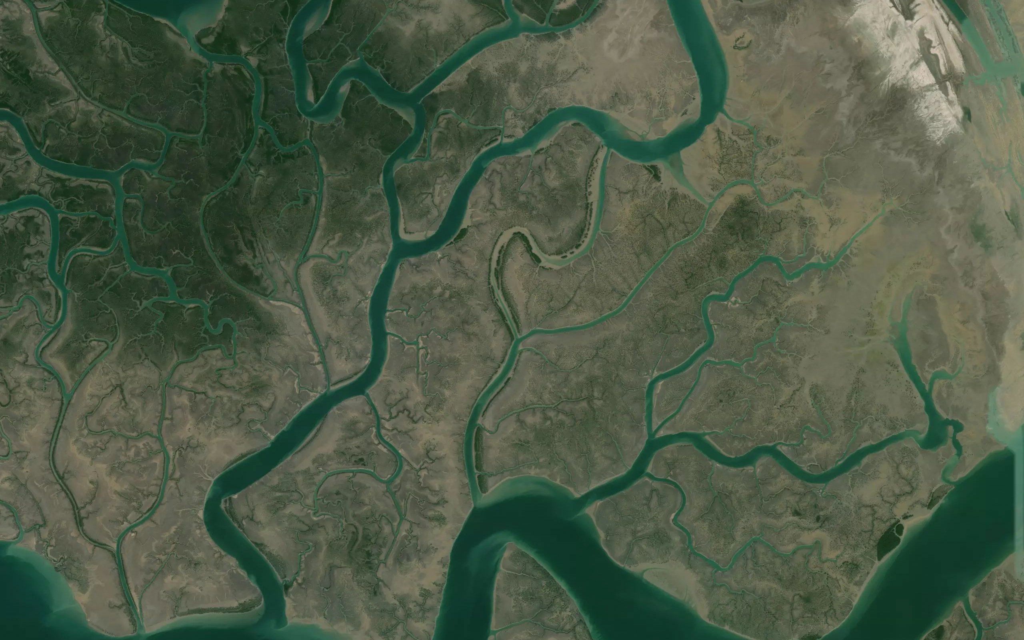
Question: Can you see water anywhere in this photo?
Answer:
Yes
